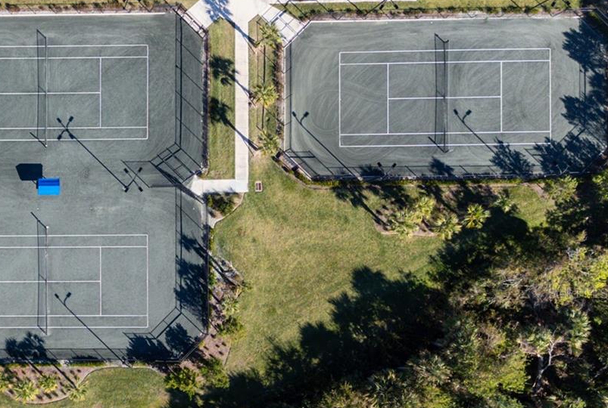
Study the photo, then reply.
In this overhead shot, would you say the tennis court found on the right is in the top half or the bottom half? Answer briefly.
top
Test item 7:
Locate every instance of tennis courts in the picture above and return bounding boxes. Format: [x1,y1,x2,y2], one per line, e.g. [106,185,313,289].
[0,189,208,362]
[285,21,608,179]
[0,14,206,189]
